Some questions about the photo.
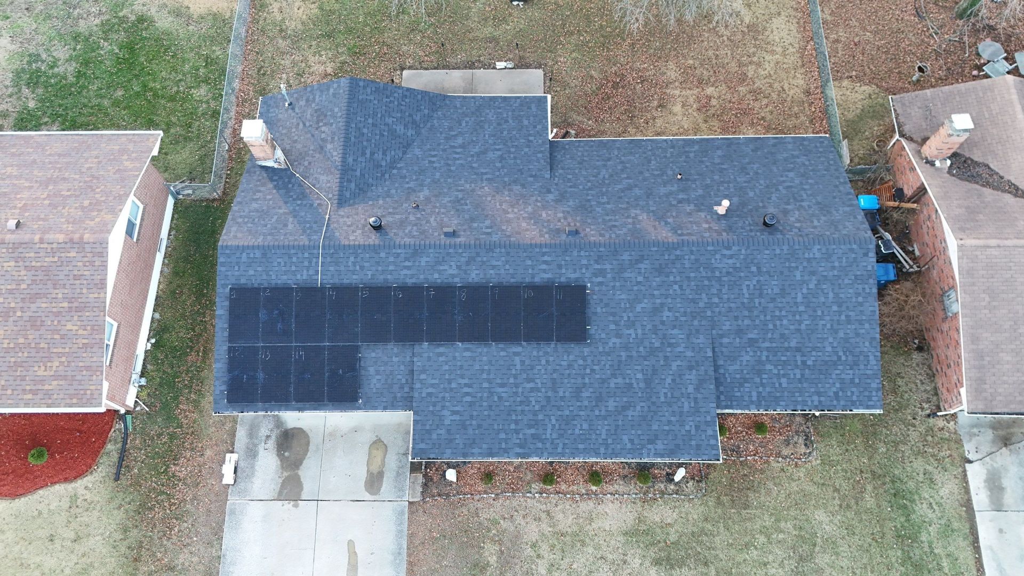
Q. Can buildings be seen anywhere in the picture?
Yes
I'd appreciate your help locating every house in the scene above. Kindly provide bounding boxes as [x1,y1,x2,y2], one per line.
[213,76,882,466]
[0,129,173,418]
[883,69,1024,420]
